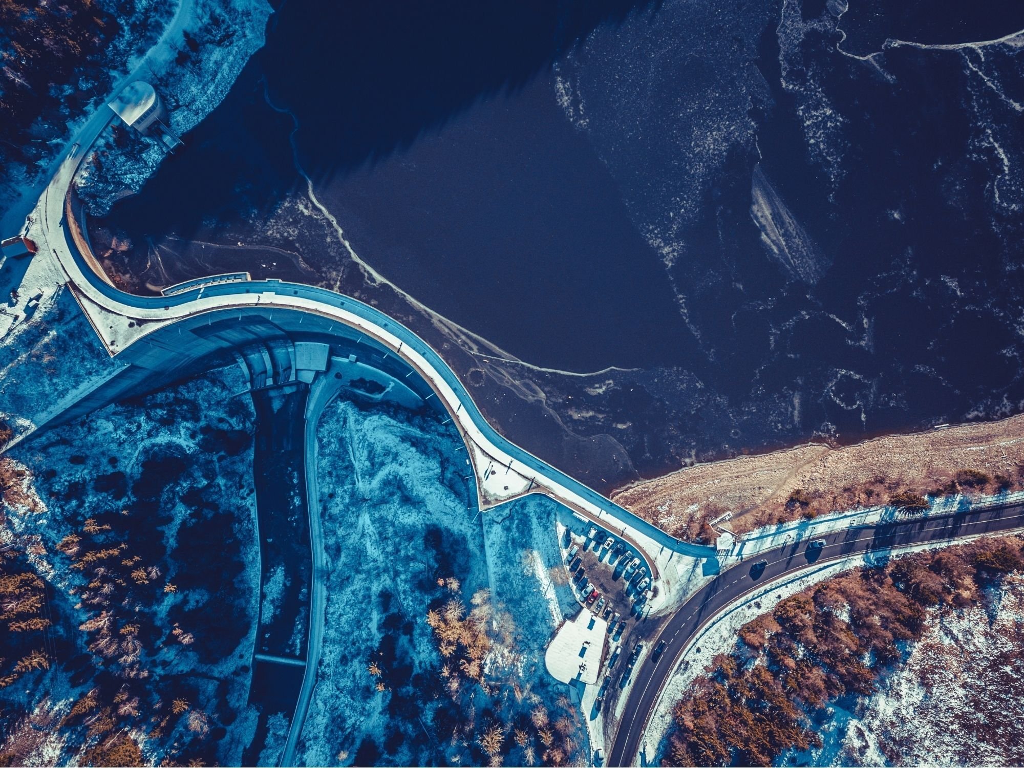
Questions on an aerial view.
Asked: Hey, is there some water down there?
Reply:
Yes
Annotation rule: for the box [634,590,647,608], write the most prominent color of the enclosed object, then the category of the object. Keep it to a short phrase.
blue vehicle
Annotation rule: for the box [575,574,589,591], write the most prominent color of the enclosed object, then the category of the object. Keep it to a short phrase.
blue car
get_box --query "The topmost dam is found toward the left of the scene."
[0,109,717,622]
